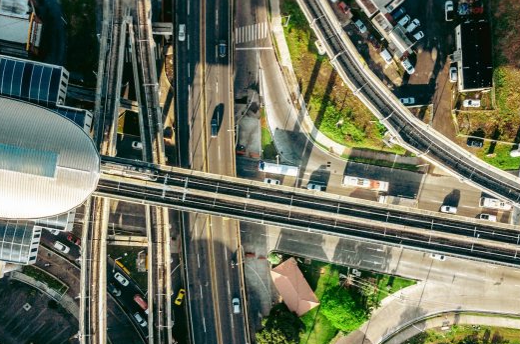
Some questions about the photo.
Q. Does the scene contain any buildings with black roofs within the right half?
Yes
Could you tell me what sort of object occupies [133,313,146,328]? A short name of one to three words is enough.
vehicle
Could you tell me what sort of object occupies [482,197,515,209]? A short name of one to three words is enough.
vehicle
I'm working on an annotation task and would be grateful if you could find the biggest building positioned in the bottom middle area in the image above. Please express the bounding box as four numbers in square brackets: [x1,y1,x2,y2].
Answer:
[272,258,320,316]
